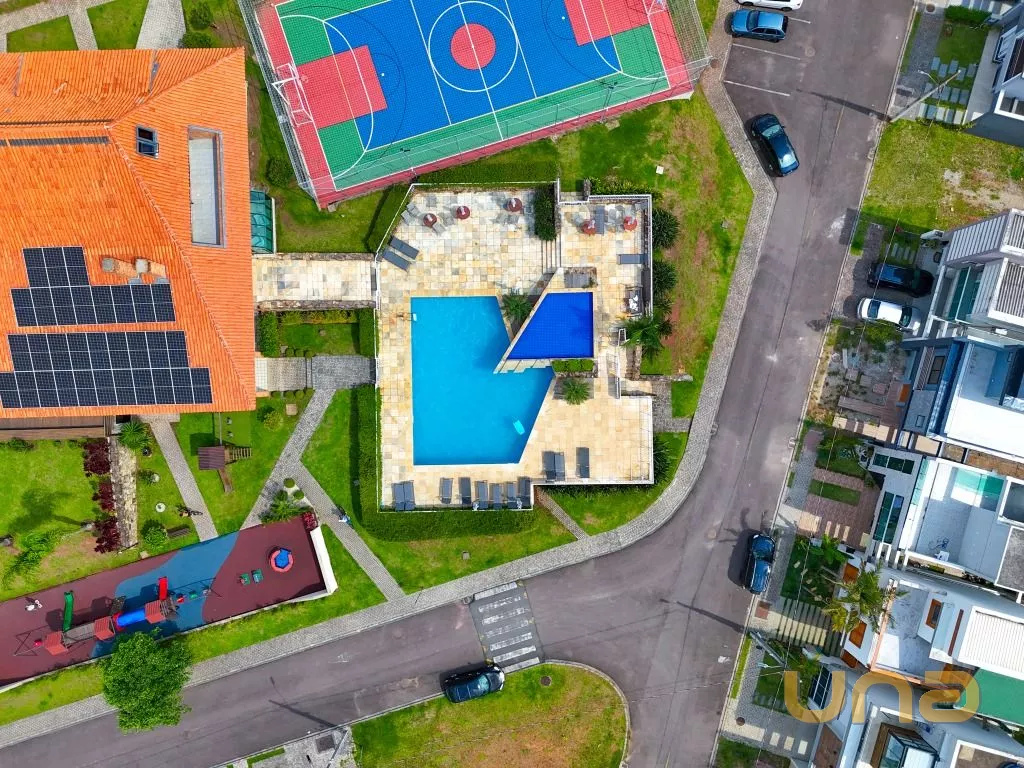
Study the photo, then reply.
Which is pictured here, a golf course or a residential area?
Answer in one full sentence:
This image shows a residential area.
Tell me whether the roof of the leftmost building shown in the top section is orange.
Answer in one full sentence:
Yes, the roof of the leftmost building shown in the top section is indeed orange.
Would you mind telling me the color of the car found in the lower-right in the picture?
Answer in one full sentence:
From above, the car found in the lower-right appears blue.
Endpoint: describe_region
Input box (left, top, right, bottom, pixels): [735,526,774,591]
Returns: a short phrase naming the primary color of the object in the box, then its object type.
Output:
blue car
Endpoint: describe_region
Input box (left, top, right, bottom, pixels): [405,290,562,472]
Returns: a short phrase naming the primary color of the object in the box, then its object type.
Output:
blue swimming pool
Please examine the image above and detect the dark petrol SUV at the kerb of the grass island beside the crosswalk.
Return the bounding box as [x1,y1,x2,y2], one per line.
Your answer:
[440,662,505,710]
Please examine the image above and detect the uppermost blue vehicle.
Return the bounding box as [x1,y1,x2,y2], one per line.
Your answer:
[726,3,791,42]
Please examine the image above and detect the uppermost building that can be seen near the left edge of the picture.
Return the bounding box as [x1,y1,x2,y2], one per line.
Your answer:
[0,45,256,416]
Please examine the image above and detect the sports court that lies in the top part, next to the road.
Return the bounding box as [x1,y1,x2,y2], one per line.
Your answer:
[261,0,697,207]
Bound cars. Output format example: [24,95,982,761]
[440,662,505,710]
[748,114,798,177]
[735,526,774,591]
[854,295,914,333]
[726,3,791,42]
[740,0,803,11]
[862,257,928,297]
